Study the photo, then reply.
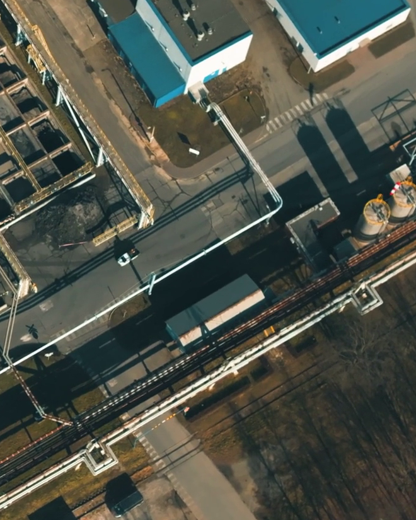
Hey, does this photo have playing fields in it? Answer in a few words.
No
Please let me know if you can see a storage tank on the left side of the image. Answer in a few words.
No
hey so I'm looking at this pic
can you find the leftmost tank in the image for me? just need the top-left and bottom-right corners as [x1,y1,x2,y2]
[353,189,395,246]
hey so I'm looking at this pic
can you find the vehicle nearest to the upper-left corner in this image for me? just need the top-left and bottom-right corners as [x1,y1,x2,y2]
[112,243,145,272]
